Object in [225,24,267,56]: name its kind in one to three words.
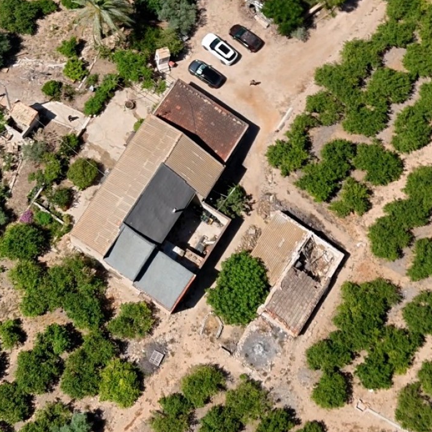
car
